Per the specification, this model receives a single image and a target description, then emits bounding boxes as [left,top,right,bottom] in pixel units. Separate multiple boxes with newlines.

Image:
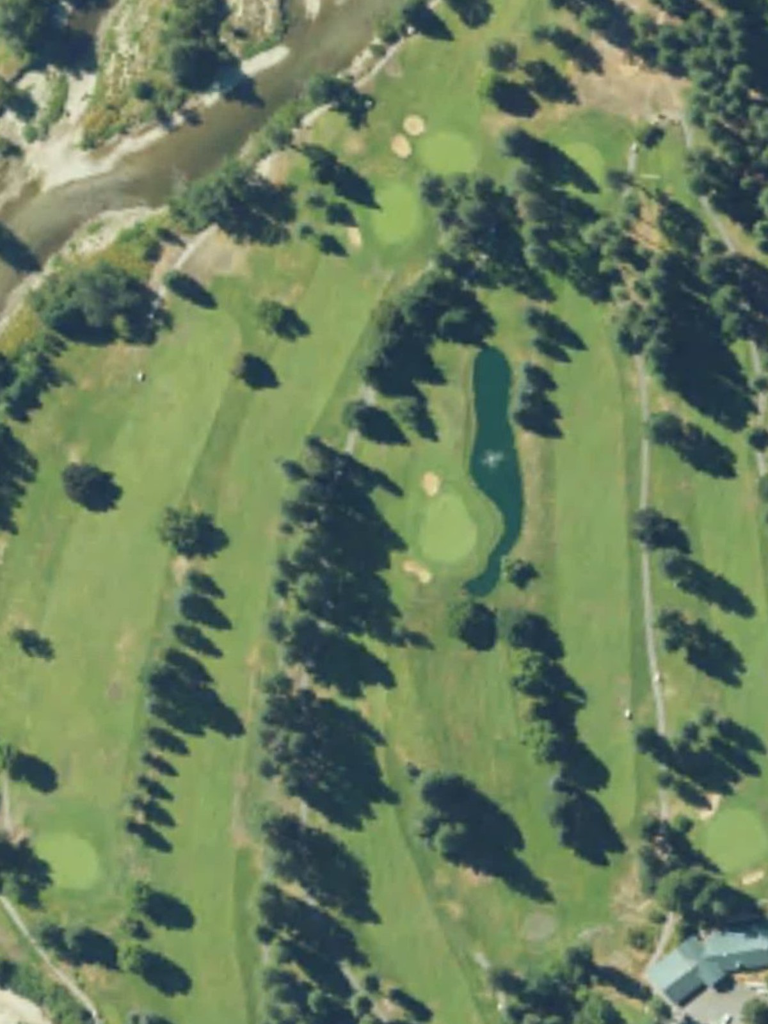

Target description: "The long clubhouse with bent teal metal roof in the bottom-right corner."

[650,926,768,1006]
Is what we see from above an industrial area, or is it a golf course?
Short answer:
golf course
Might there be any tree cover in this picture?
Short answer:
Yes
